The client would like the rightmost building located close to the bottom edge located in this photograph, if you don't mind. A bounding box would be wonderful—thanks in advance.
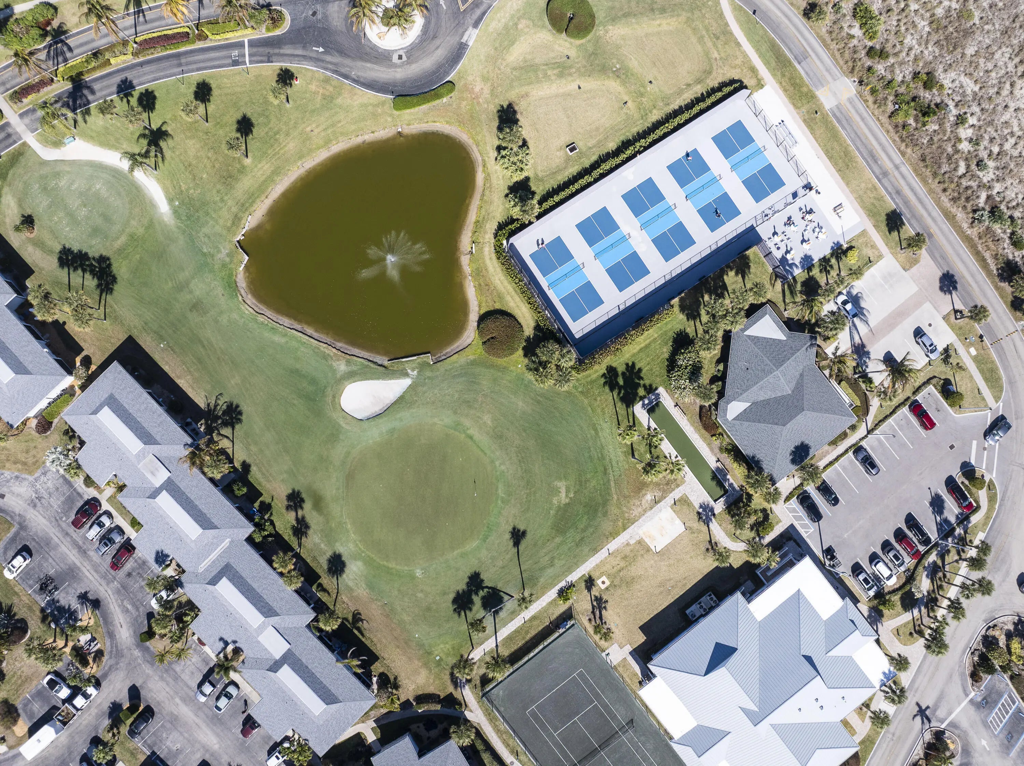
[638,555,898,766]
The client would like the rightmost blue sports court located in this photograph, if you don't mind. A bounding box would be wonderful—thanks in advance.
[711,118,786,204]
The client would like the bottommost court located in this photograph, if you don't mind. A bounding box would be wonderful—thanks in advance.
[485,624,685,766]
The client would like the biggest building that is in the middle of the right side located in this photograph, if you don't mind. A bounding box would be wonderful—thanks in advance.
[716,304,858,487]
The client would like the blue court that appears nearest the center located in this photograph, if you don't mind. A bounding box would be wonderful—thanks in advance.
[529,235,604,323]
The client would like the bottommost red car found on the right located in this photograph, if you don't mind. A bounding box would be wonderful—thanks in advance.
[896,533,922,561]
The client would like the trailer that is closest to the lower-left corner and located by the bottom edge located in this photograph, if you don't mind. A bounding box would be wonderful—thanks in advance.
[19,714,74,761]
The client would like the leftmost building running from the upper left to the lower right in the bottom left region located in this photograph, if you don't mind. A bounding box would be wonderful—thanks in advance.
[62,361,385,754]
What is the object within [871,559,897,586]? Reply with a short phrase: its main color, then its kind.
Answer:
white car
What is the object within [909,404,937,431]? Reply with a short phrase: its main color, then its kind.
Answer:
red car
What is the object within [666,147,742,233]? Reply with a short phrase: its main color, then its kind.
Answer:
blue sports court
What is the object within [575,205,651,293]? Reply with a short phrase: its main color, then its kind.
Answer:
blue sports court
